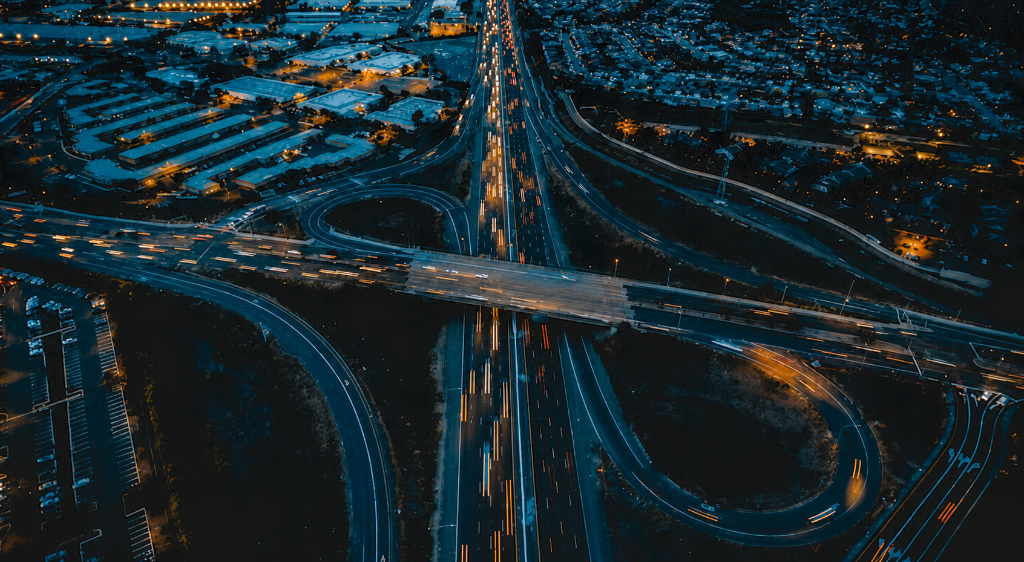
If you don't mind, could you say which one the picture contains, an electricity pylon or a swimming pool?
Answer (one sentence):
The image shows an electricity pylon.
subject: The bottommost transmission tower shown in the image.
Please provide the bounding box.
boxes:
[714,151,738,203]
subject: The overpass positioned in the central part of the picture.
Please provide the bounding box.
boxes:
[406,250,639,330]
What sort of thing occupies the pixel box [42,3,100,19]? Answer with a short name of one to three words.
building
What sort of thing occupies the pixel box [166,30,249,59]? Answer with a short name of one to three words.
building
